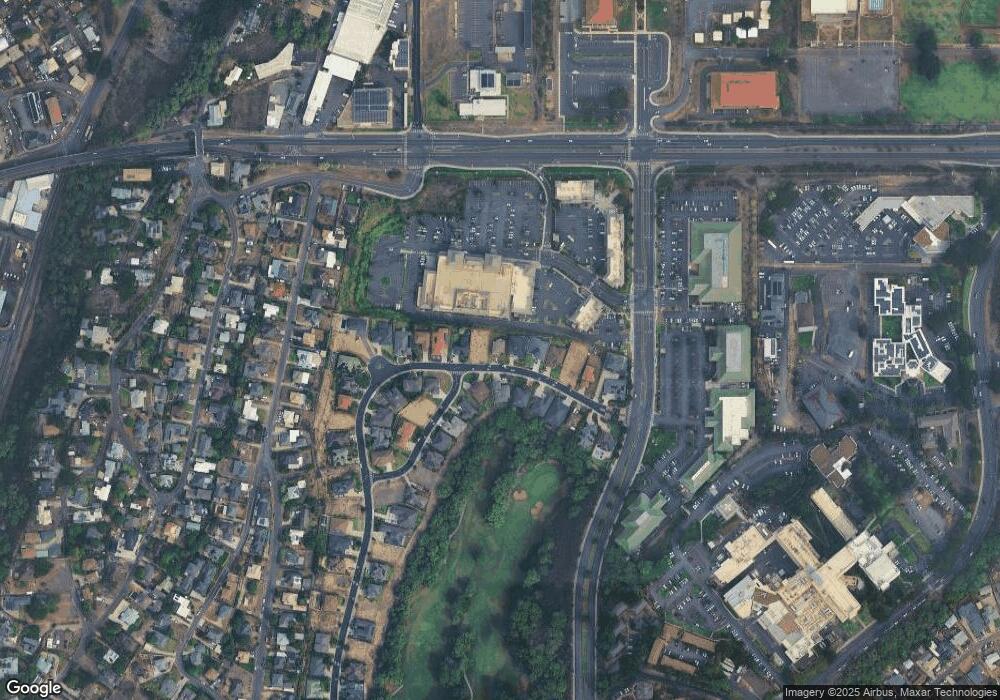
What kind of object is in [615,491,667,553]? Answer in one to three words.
building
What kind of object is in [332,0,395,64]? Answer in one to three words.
building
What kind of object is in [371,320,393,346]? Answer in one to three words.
house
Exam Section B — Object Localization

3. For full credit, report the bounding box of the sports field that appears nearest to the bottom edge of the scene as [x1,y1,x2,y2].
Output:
[899,62,1000,121]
